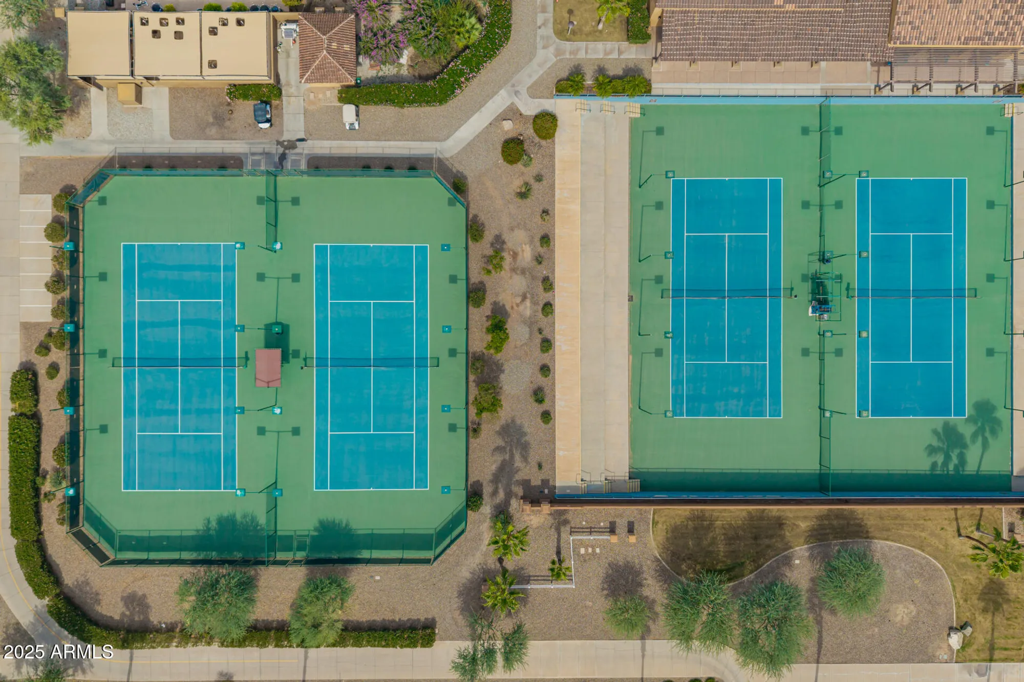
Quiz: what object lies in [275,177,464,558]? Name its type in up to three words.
tennis court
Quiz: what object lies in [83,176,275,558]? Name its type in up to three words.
tennis court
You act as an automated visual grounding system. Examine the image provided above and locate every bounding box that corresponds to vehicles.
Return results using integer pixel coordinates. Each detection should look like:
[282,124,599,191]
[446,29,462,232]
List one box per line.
[344,103,361,132]
[254,102,274,131]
